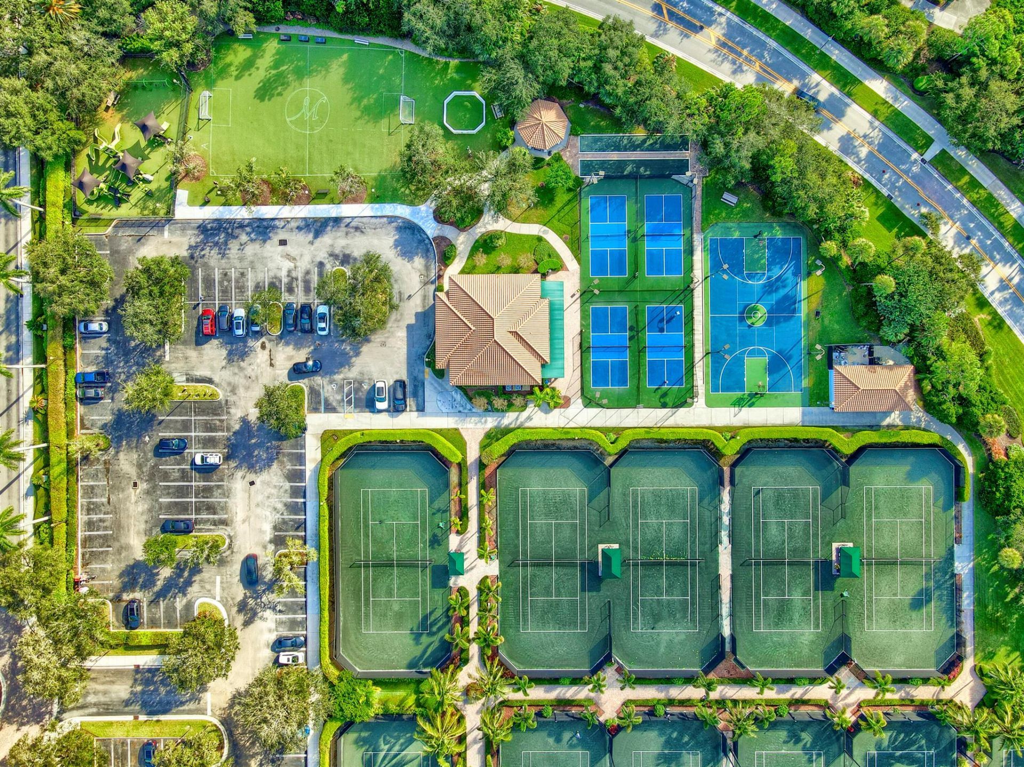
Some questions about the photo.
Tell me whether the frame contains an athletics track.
No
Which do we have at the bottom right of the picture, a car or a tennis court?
tennis court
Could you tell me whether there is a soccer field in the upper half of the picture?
Yes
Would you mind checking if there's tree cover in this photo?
Yes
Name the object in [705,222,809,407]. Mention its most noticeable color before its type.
blue basketball court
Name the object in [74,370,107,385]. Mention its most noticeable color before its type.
blue vehicle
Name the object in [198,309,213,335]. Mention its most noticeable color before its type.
red car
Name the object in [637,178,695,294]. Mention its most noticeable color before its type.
blue sports court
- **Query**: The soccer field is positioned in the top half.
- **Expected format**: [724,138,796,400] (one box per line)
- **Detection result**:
[200,42,404,175]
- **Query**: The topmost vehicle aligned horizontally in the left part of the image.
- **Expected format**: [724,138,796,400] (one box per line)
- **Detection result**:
[77,319,106,333]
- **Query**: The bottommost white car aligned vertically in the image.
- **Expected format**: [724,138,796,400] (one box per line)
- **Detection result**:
[373,380,387,411]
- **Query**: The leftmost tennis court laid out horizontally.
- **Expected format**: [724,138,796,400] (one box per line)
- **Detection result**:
[338,721,450,767]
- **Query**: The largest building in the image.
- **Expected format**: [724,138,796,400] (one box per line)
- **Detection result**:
[435,273,564,386]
